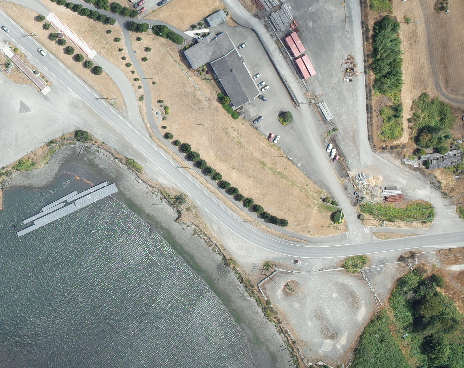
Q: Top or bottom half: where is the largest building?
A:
top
